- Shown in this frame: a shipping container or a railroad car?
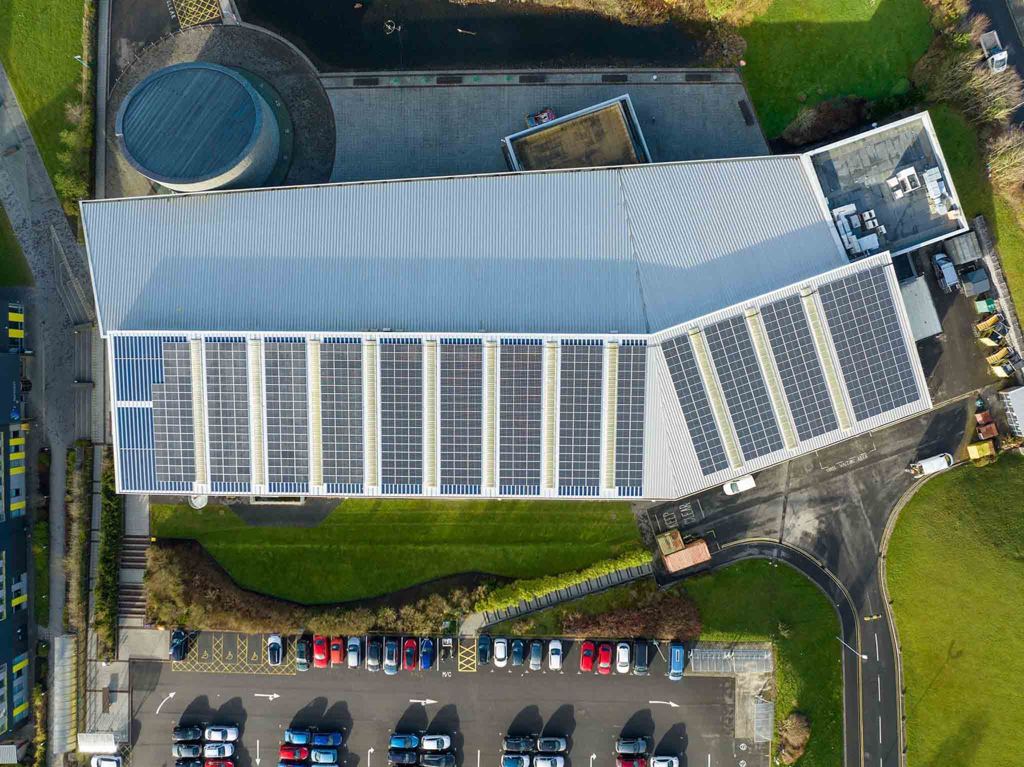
shipping container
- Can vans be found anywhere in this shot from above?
Yes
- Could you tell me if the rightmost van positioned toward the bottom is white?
Yes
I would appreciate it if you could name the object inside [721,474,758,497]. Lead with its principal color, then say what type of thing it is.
white vehicle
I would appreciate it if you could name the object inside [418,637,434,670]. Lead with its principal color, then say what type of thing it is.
blue car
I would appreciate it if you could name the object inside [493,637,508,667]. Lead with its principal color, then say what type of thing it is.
white car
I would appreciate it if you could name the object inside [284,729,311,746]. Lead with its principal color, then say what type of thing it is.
blue car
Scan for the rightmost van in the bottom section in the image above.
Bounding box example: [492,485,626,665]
[905,452,955,484]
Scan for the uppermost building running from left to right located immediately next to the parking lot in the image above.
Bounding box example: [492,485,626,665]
[78,153,932,510]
